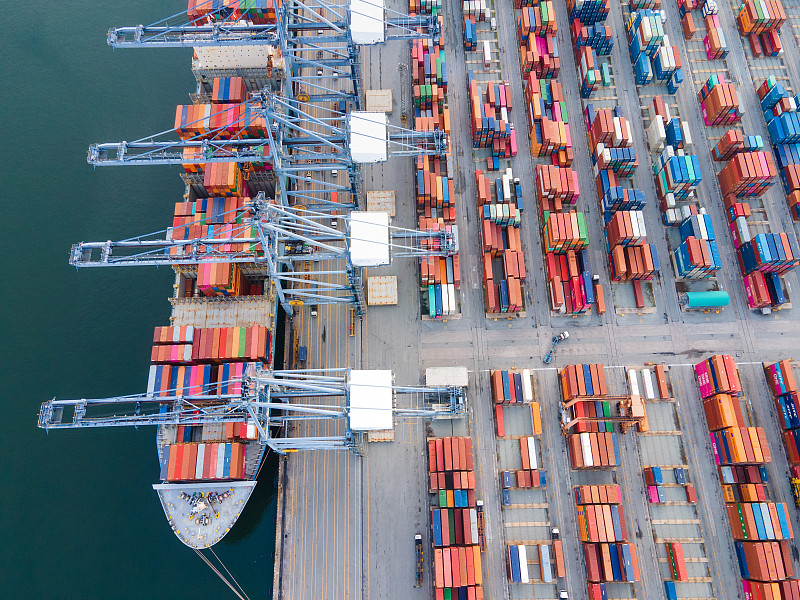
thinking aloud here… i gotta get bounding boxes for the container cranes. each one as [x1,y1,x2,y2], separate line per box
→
[38,366,472,466]
[68,198,461,328]
[108,0,445,135]
[559,395,653,434]
[87,88,453,234]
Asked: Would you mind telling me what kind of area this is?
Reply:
port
